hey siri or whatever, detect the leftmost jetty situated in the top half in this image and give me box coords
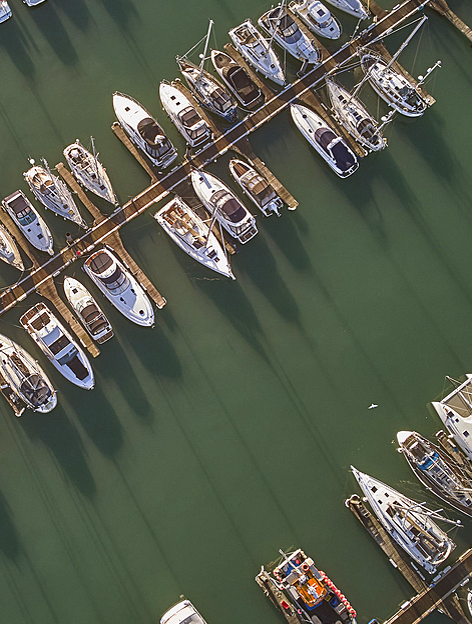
[0,207,46,273]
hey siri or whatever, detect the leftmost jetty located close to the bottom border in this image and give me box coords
[257,565,302,624]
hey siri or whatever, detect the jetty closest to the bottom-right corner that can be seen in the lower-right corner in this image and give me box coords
[433,595,466,624]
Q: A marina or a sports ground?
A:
marina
